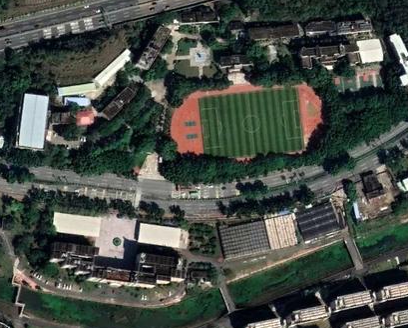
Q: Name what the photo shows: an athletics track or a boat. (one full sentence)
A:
Of the two, only an athletics track appears.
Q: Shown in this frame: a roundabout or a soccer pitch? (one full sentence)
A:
Of the two, only a soccer pitch appears.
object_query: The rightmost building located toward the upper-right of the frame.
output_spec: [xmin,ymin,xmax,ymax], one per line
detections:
[389,34,408,88]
